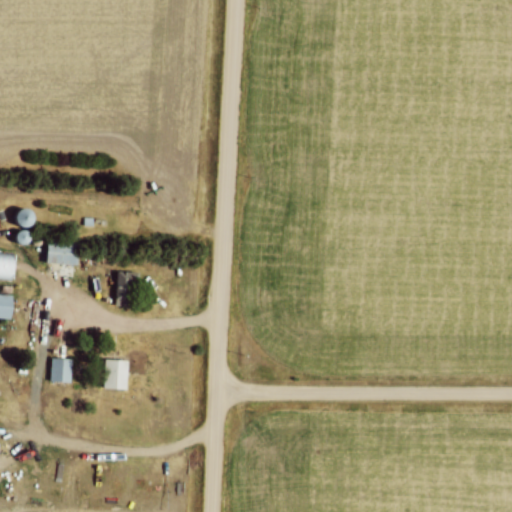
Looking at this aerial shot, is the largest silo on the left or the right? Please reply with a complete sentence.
The largest silo appears in the left half of the scene.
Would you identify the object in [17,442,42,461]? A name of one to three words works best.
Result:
work vehicle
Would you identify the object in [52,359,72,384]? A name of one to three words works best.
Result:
building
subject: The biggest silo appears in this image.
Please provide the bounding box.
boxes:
[16,208,36,228]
